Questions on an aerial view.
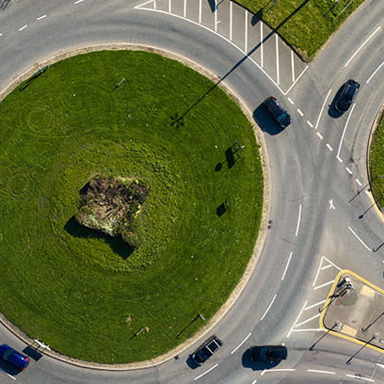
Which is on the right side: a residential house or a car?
car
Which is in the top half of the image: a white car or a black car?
black car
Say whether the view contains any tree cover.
No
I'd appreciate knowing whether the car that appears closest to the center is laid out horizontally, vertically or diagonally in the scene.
diagonally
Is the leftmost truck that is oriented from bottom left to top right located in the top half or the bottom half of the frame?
bottom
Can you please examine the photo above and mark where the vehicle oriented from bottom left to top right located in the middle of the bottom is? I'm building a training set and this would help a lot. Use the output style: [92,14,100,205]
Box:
[188,331,224,368]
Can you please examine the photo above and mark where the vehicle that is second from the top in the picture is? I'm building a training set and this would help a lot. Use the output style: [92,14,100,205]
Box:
[260,98,290,130]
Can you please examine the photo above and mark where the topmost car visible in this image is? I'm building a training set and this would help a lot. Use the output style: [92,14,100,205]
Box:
[332,78,360,113]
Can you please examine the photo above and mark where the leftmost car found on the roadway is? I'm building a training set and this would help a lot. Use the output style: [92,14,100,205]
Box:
[0,345,31,370]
